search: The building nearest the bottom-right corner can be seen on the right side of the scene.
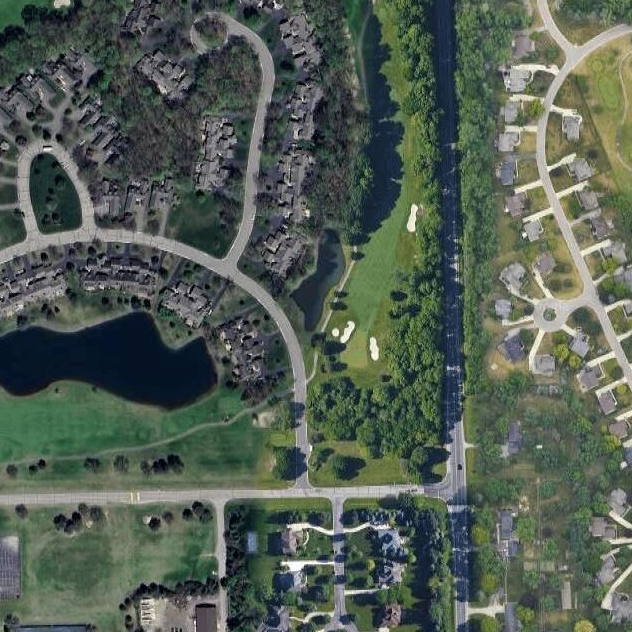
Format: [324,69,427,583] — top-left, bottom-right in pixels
[608,598,632,620]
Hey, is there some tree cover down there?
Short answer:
Yes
